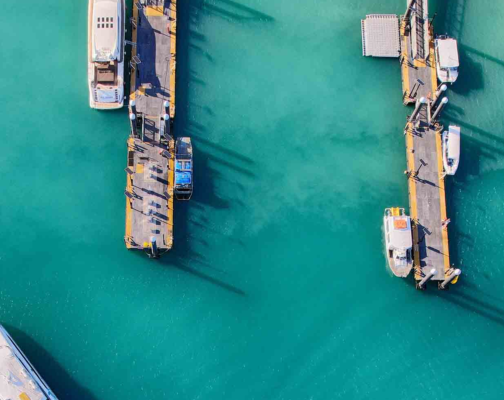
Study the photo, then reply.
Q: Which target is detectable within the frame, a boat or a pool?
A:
boat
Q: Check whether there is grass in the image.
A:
No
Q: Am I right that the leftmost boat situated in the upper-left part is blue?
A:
No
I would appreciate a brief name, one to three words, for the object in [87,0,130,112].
boat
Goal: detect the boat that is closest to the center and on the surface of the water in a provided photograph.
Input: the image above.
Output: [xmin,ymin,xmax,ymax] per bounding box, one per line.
[174,136,192,201]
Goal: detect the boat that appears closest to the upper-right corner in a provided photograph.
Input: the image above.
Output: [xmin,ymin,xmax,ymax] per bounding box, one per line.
[434,34,459,84]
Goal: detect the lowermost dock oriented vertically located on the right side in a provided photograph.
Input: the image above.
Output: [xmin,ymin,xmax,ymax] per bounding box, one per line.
[402,121,450,283]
